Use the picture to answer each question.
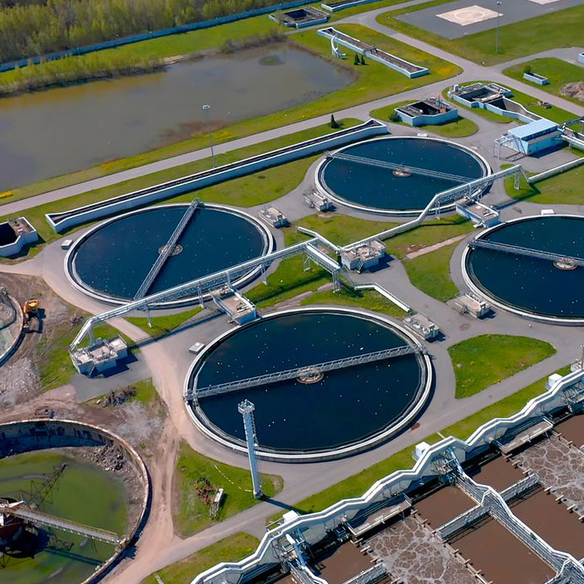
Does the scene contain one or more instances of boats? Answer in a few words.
No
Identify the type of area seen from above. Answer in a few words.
industrial area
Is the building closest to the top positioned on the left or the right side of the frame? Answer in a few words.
right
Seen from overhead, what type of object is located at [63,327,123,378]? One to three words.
building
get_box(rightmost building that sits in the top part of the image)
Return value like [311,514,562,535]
[493,117,566,162]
